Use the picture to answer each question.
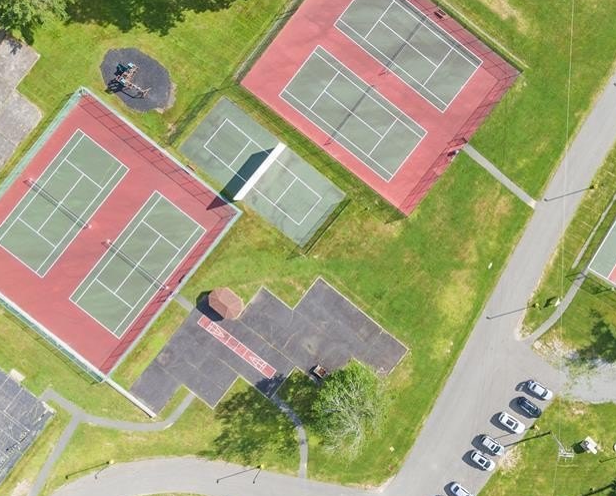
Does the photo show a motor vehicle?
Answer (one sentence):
Yes, the picture does show a motor vehicle.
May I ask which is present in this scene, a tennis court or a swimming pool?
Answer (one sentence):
This aerial view contains a tennis court.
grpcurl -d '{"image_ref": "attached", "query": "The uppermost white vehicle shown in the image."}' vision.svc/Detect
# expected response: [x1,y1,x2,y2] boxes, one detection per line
[526,379,553,402]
